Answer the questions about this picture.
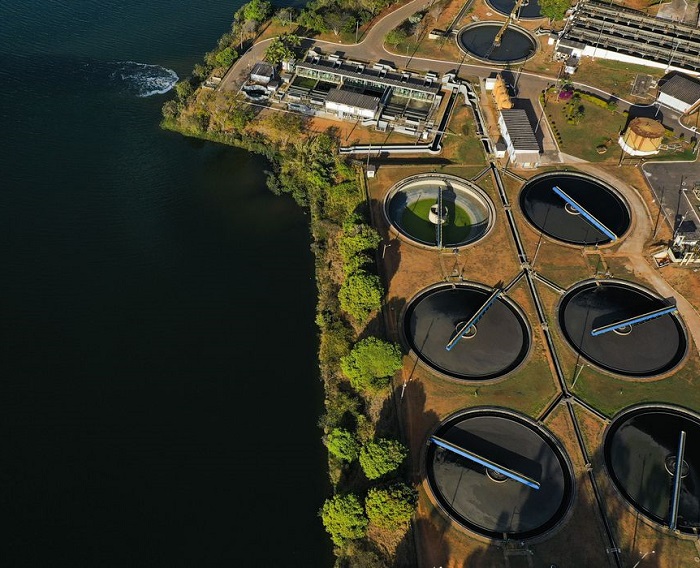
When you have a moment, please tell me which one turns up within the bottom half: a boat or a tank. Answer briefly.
tank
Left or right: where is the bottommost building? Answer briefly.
right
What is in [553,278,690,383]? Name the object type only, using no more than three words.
storage tank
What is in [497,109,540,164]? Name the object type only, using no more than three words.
building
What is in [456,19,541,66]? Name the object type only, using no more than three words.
storage tank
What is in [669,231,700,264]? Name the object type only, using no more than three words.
building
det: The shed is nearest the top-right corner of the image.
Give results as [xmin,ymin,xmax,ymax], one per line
[657,70,700,116]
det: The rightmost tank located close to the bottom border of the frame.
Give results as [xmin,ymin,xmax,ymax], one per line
[597,398,700,541]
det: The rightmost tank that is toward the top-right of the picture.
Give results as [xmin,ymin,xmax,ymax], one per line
[623,112,670,151]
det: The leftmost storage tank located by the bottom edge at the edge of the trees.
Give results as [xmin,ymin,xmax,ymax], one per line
[418,403,578,550]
